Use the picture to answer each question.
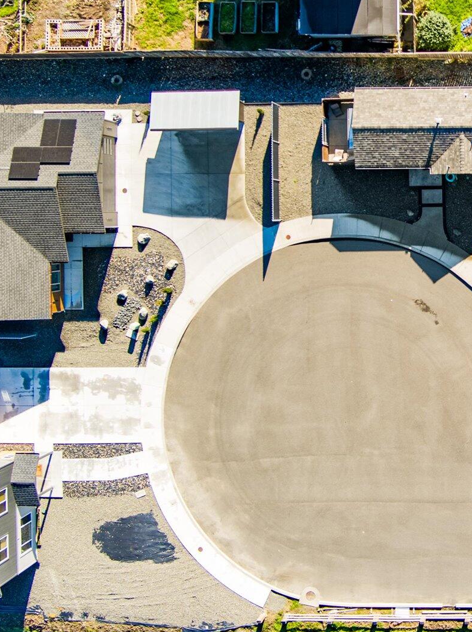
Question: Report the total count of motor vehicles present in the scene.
0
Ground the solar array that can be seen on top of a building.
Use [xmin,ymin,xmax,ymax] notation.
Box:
[8,120,77,179]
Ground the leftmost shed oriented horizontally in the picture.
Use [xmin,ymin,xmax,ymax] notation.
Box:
[149,89,251,134]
